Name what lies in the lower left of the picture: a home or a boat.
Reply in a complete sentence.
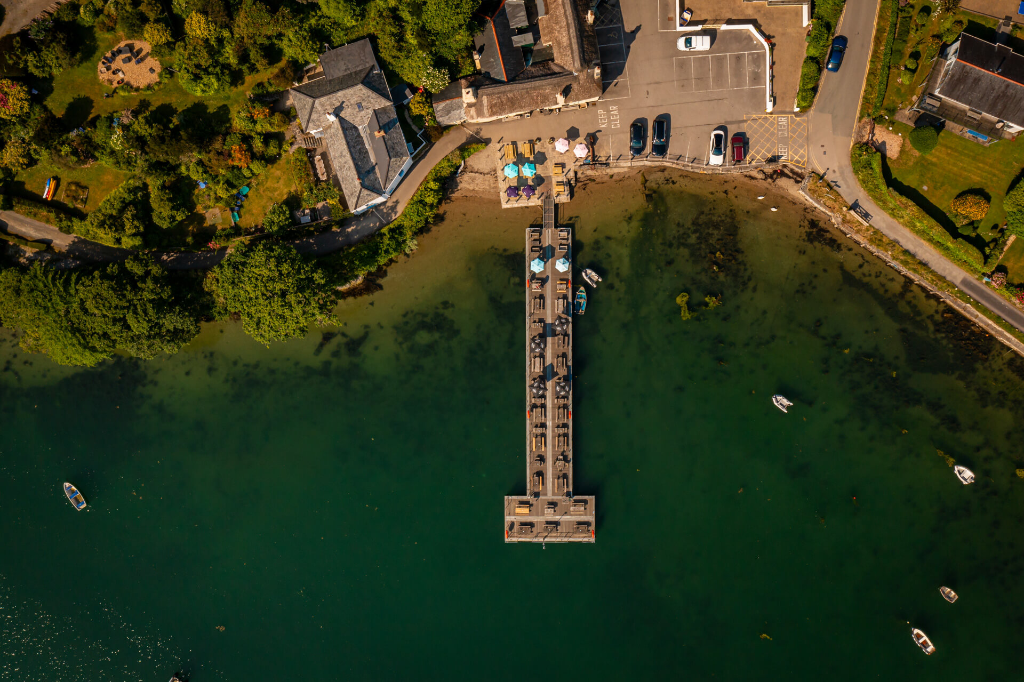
The one visible in the lower left of the picture is a boat.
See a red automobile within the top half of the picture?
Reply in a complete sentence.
Yes, a red automobile is visible within the top half of the picture.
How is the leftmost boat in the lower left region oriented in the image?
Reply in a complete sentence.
Seen from above, the leftmost boat in the lower left region lies on a diagonal.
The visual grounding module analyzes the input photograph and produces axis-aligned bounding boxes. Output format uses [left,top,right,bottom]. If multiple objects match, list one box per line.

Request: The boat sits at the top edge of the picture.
[680,6,693,26]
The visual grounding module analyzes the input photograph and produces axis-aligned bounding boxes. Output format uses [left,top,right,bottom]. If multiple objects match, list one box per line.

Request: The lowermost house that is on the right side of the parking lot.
[935,32,1024,133]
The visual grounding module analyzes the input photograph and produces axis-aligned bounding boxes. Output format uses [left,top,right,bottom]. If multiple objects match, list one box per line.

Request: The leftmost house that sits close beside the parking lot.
[289,37,411,215]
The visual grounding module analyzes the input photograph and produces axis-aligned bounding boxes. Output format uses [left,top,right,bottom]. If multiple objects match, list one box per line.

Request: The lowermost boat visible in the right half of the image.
[914,630,937,657]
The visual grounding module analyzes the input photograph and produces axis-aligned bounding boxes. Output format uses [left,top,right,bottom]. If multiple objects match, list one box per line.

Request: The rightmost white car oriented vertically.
[709,129,726,166]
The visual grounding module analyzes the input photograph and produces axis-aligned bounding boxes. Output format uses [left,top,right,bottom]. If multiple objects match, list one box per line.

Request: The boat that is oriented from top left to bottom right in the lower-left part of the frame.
[63,484,86,512]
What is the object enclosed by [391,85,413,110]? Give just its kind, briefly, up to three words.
shed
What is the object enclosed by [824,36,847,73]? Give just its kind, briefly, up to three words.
car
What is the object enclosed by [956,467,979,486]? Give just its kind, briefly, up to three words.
boat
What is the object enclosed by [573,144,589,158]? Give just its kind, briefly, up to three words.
umbrella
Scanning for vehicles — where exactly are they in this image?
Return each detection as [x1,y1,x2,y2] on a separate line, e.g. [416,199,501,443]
[677,33,712,53]
[709,129,726,166]
[824,36,847,73]
[651,116,669,155]
[730,134,747,166]
[630,123,646,157]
